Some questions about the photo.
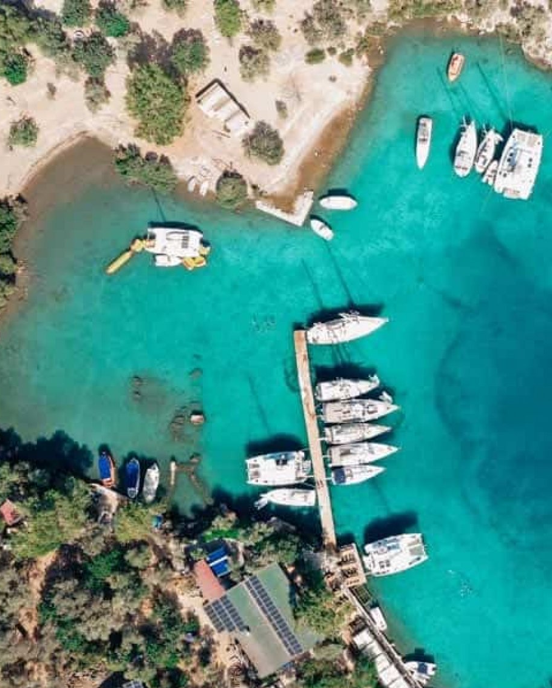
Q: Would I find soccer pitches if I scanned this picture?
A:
No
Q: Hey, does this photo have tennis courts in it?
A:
No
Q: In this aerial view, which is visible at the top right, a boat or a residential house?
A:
boat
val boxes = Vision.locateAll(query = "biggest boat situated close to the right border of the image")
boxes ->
[496,129,542,204]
